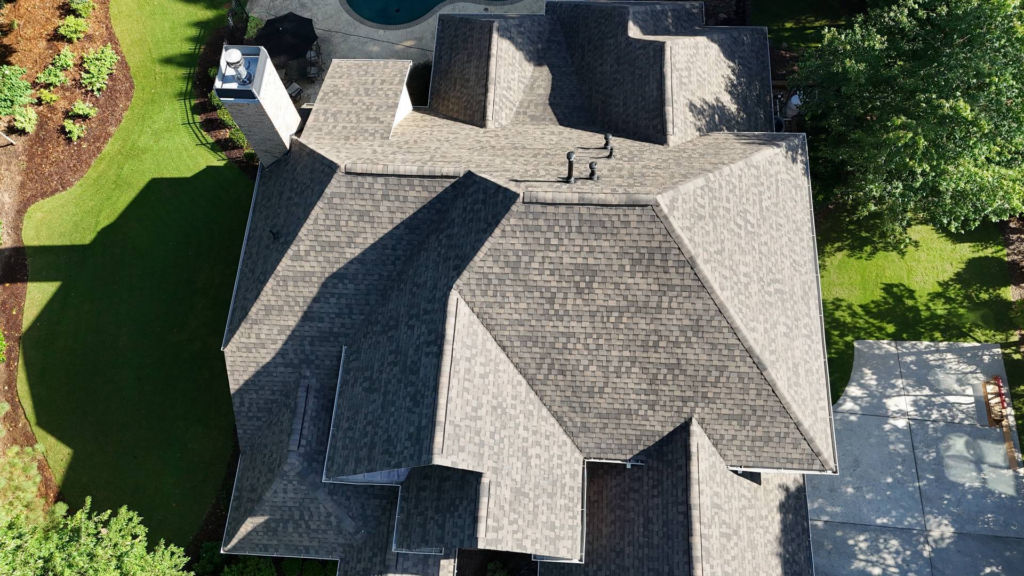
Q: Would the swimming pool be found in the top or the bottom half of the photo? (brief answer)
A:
top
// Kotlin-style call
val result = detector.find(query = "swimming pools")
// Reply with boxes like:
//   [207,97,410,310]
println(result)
[340,0,523,30]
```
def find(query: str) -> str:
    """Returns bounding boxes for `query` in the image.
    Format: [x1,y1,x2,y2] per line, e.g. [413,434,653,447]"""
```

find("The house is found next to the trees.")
[210,0,841,576]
